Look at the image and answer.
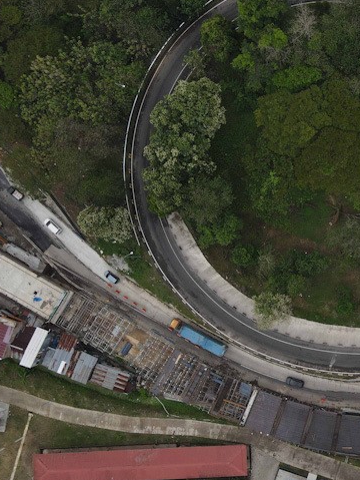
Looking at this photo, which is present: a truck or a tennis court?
truck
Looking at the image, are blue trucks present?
Yes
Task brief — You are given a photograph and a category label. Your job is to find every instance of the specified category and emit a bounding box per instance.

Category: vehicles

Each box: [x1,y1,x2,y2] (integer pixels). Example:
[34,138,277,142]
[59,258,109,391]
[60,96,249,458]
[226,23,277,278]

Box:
[41,218,61,235]
[167,318,226,358]
[4,184,24,202]
[101,270,120,285]
[284,377,305,387]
